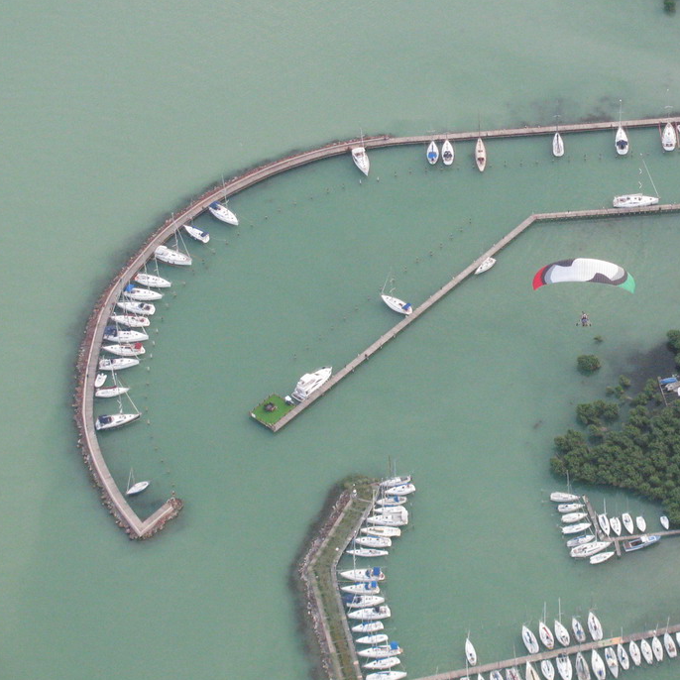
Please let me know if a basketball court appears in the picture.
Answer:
No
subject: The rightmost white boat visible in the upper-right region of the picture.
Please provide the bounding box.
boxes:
[661,100,677,152]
